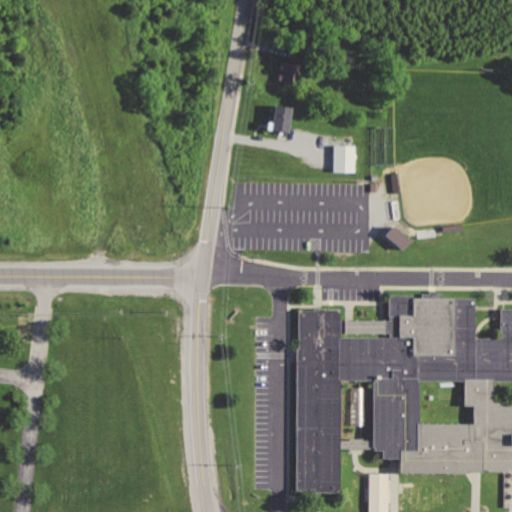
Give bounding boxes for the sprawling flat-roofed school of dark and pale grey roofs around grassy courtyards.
[297,294,512,493]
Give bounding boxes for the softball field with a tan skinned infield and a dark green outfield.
[383,74,512,226]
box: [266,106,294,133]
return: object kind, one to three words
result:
house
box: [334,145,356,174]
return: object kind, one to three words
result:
building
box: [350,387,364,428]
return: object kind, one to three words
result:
shed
